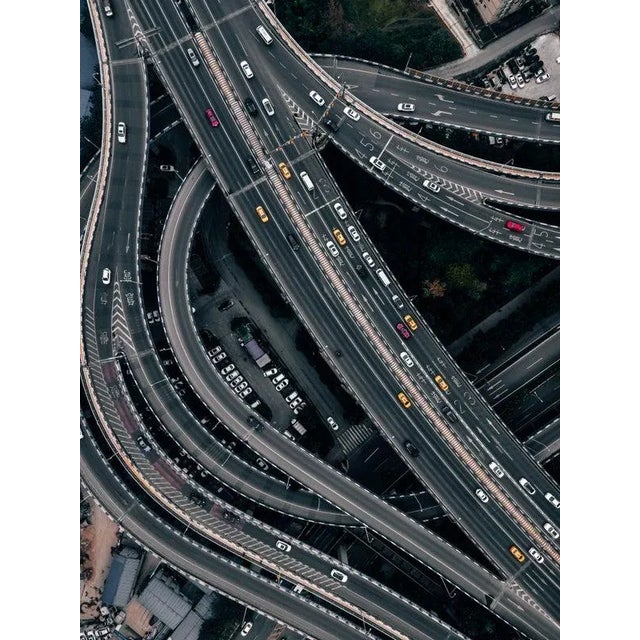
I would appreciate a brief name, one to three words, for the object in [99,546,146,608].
shed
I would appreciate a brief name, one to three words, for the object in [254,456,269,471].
car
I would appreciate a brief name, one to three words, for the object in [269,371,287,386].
vehicle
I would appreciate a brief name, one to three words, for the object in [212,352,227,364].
vehicle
